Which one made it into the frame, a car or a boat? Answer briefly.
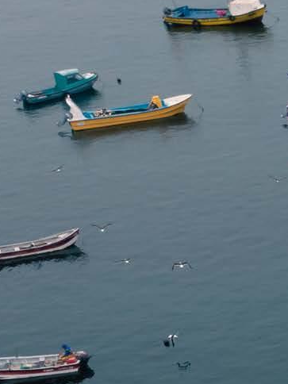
boat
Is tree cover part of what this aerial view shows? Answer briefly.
No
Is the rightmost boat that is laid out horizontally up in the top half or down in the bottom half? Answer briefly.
top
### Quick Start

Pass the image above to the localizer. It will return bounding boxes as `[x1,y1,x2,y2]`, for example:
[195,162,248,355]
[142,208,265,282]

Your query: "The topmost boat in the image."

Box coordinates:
[160,0,266,25]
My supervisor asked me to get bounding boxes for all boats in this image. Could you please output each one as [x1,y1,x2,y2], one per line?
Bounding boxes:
[0,226,79,262]
[16,68,98,106]
[0,346,89,383]
[60,93,192,130]
[160,0,266,25]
